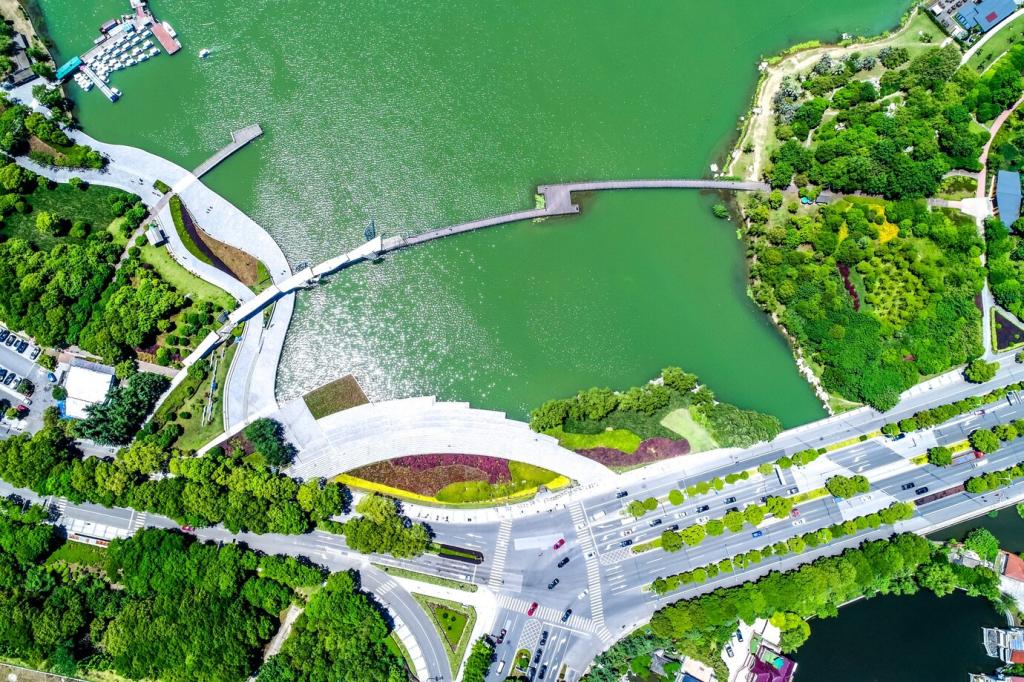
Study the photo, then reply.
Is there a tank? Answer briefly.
No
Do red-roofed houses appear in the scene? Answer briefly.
Yes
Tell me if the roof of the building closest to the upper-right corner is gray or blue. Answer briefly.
blue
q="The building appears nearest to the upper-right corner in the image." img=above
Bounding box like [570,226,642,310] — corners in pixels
[968,0,1018,38]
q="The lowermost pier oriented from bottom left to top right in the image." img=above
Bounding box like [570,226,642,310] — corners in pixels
[191,123,263,178]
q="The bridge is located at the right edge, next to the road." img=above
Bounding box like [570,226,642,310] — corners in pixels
[784,404,1024,536]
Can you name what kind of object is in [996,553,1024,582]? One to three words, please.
house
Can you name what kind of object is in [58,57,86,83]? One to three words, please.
building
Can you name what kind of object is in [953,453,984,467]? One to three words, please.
vehicle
